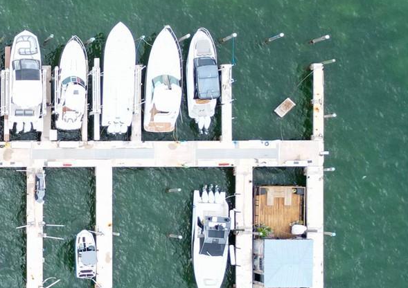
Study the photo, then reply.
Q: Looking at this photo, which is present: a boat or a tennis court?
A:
boat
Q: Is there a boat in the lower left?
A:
Yes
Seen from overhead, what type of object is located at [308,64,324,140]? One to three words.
pier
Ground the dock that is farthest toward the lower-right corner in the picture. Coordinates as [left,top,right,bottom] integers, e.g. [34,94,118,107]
[301,168,324,288]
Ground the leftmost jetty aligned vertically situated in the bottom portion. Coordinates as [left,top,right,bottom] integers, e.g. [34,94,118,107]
[24,168,43,288]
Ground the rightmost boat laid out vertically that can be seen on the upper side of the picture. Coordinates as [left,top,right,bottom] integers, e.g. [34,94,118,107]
[183,28,219,130]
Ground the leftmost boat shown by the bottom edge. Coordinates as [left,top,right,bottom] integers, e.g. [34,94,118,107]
[75,230,97,278]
